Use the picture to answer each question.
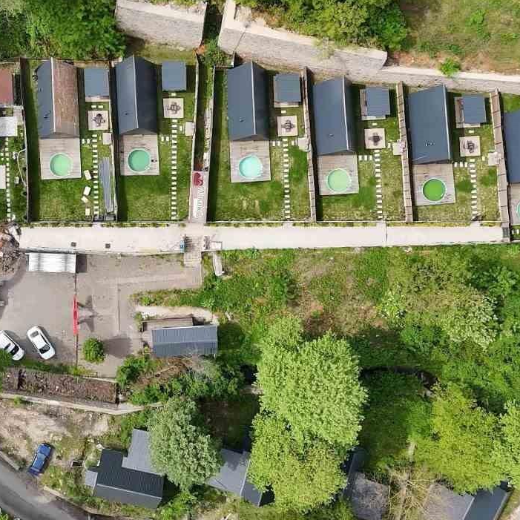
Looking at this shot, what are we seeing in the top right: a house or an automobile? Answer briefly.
house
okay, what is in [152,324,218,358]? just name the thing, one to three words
building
